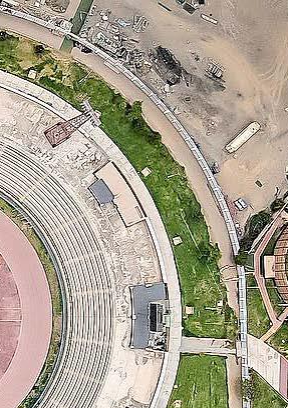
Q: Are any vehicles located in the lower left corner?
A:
No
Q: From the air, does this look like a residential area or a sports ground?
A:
sports ground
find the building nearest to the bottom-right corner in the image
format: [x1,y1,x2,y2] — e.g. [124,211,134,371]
[260,256,275,277]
